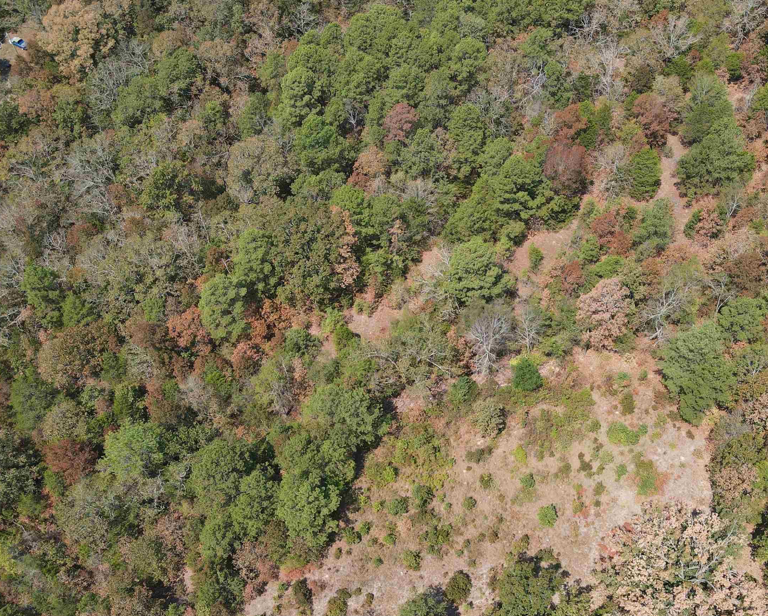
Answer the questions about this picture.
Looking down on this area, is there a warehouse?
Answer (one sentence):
No, there isn't any warehouse down there.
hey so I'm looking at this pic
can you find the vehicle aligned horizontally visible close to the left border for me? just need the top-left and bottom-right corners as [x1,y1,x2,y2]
[5,39,31,52]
